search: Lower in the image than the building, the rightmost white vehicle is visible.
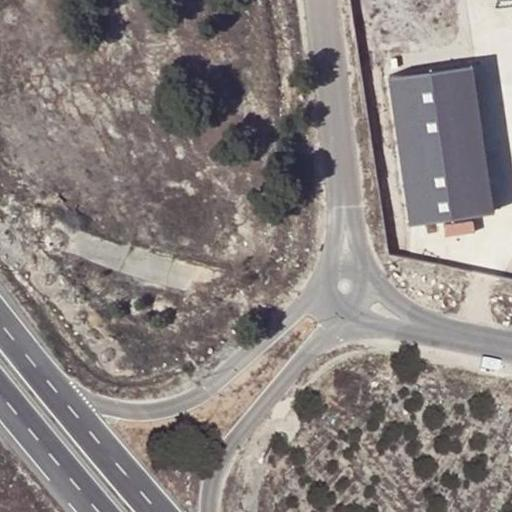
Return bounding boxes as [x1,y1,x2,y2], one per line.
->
[480,356,504,370]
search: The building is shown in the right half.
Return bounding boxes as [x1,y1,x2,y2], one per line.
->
[389,66,494,226]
